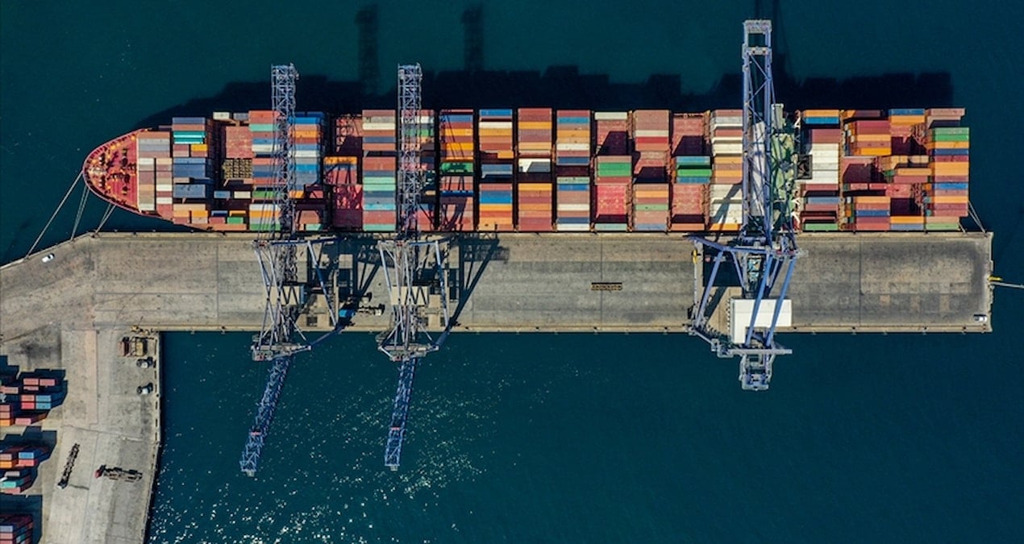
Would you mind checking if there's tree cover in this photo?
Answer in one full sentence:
No, there is no tree cover in the image.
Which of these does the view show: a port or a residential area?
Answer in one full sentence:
This image shows a port.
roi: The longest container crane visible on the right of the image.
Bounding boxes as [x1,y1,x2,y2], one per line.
[682,17,810,392]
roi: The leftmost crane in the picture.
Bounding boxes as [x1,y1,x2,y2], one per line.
[236,58,348,479]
